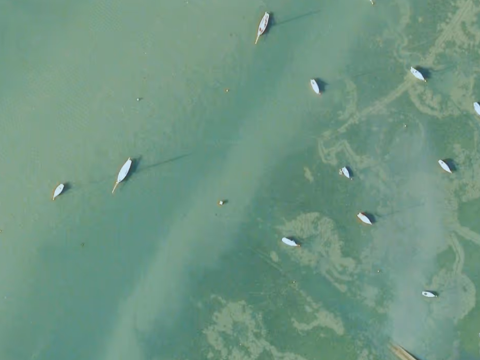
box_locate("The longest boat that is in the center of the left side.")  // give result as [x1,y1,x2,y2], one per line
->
[111,157,133,192]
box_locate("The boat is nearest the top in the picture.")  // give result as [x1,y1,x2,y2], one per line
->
[256,11,269,40]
